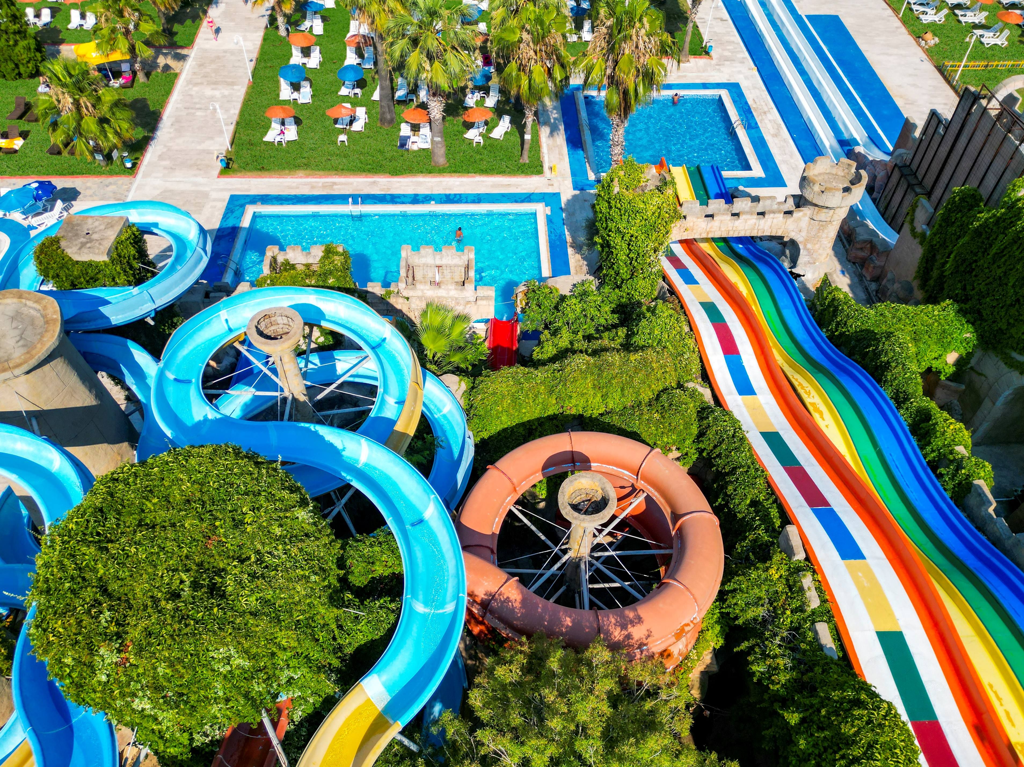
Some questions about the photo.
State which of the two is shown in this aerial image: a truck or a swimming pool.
swimming pool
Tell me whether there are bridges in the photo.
Yes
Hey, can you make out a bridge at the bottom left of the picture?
No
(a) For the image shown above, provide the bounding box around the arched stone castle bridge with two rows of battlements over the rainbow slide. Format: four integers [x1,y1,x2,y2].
[663,191,824,289]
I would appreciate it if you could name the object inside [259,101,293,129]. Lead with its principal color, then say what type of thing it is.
orange umbrella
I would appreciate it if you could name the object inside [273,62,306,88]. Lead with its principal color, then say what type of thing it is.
blue umbrella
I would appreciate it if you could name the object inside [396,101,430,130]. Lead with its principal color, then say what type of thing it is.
orange umbrella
